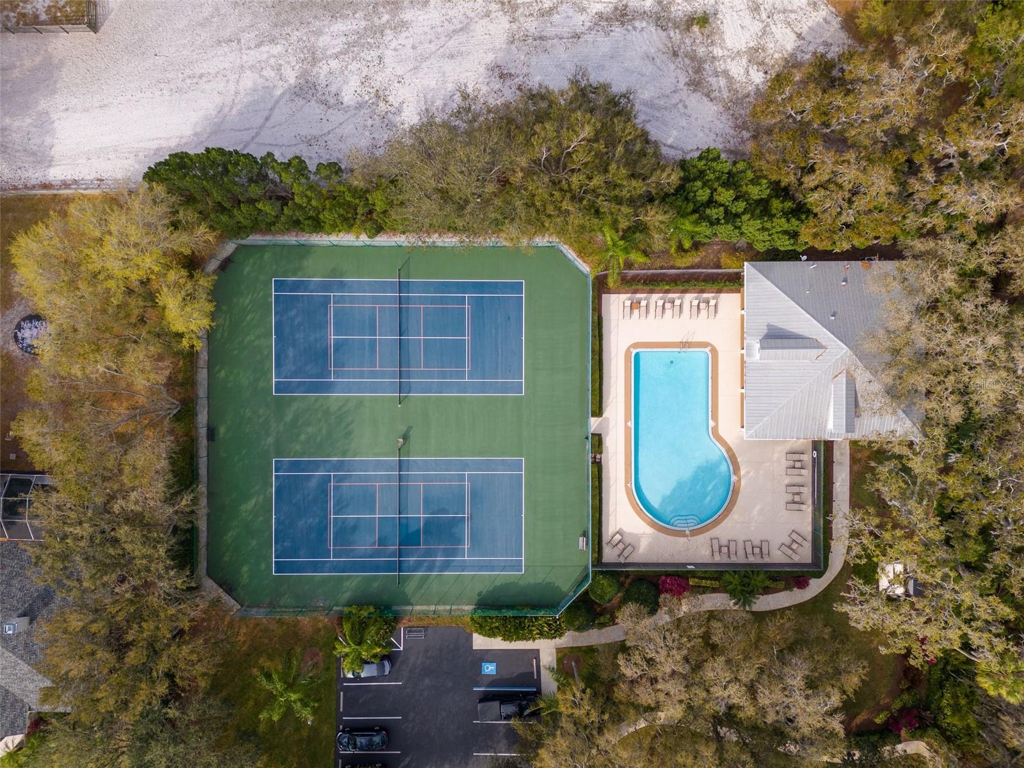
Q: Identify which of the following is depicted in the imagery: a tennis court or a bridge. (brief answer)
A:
tennis court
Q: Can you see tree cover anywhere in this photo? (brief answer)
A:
Yes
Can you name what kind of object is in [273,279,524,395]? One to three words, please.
tennis court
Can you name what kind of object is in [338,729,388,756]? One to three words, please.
car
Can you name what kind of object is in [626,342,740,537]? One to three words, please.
swimming pool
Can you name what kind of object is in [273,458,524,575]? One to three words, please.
tennis court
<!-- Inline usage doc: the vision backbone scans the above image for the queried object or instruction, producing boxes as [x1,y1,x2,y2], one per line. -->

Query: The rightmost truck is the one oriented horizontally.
[477,694,540,723]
